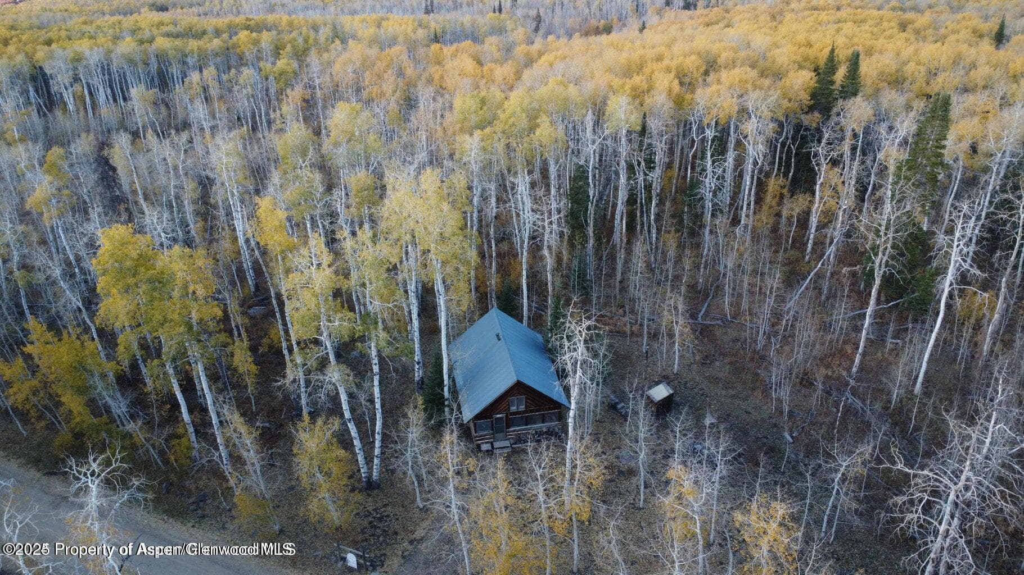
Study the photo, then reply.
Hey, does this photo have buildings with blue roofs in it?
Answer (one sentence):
Yes, a building with a blue roof appears in the view.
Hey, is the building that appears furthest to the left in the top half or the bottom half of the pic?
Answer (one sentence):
It is in the bottom half that the building that appears furthest to the left appears.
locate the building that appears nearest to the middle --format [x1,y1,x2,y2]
[451,306,569,450]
